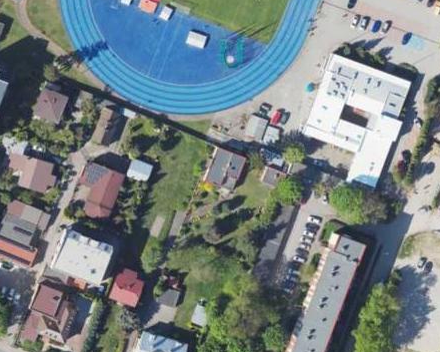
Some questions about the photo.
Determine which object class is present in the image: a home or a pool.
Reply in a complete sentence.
This aerial view contains a home.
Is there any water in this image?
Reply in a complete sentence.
No, the picture contains no water.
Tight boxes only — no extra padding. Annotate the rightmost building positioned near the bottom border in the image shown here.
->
[286,236,367,352]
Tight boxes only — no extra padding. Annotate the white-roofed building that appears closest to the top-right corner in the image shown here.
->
[303,53,411,189]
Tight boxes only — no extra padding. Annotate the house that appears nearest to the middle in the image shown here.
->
[203,146,248,190]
